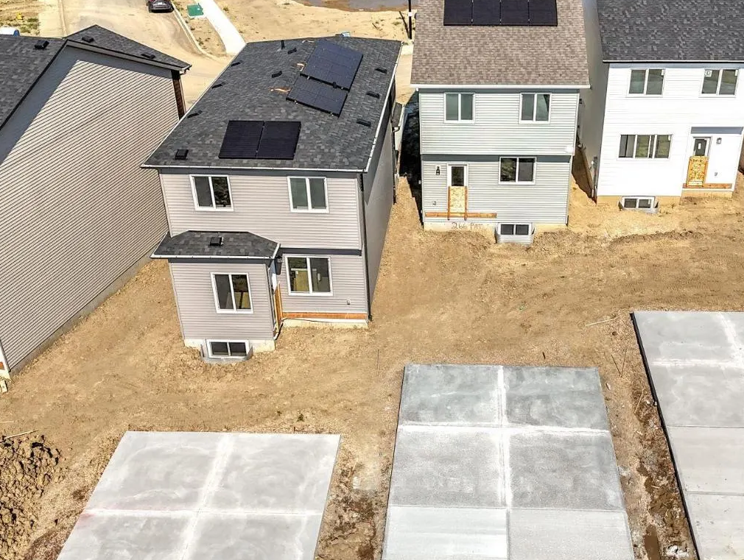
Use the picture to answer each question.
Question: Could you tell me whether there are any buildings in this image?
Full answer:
Yes, a building can be made out from above.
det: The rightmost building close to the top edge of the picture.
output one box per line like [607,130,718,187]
[578,0,744,210]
